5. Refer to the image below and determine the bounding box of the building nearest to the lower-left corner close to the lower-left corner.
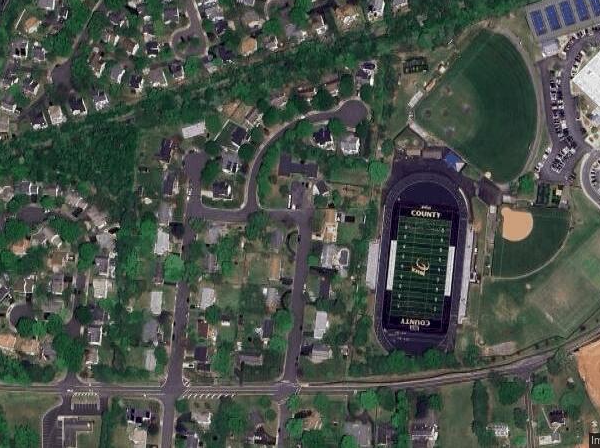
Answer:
[64,418,94,448]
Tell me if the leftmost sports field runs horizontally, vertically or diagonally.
vertically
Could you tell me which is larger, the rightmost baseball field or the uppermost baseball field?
the uppermost baseball field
